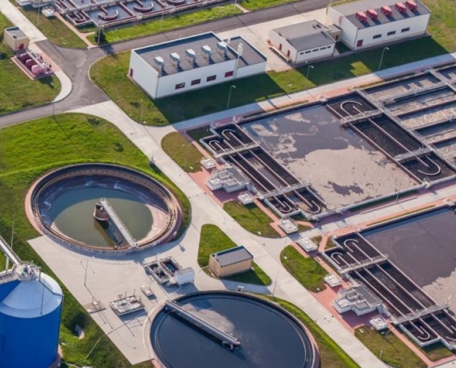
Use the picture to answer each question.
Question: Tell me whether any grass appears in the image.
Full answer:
Yes, the picture does contain grass.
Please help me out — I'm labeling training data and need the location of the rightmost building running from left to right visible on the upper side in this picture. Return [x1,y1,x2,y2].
[326,0,430,51]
